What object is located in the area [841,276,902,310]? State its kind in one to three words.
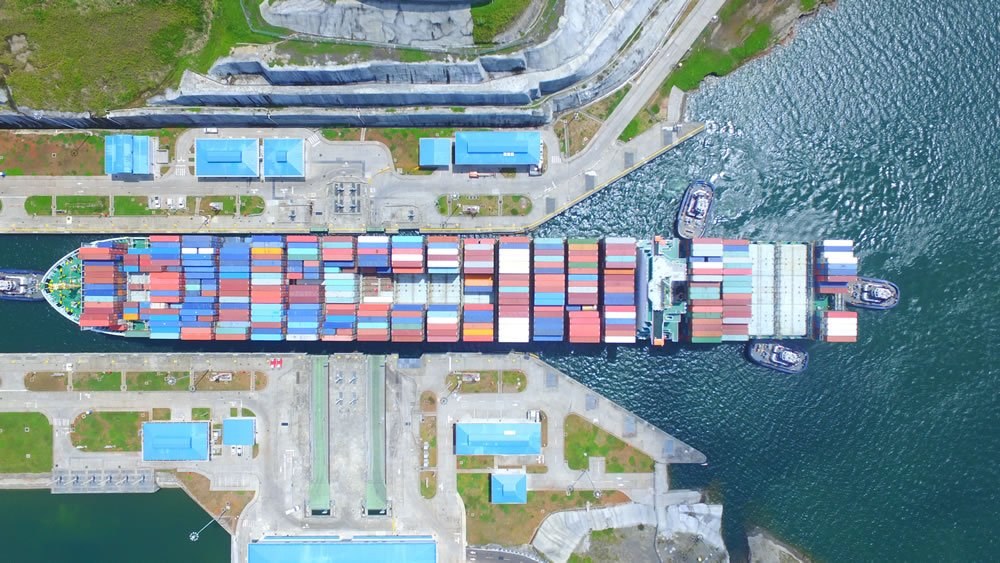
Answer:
boat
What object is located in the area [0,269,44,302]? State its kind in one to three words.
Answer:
boat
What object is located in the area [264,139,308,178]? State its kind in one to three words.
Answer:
building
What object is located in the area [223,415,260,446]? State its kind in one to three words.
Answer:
building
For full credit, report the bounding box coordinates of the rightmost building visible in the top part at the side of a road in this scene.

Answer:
[455,132,543,169]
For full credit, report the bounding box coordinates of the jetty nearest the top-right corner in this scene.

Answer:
[521,122,706,234]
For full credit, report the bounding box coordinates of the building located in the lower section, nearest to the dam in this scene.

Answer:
[142,419,215,462]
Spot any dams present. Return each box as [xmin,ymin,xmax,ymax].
[52,465,161,494]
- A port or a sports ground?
port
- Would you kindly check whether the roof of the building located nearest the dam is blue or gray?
blue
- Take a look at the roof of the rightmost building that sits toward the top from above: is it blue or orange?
blue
